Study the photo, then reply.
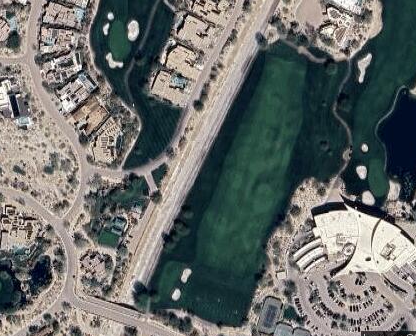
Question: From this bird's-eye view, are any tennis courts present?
Yes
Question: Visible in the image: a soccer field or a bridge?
bridge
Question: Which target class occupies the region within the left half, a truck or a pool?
pool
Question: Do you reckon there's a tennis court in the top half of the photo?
No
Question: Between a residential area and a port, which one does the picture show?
residential area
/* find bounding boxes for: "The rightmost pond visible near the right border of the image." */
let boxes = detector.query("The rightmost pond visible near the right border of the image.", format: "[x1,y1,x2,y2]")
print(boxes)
[378,89,416,198]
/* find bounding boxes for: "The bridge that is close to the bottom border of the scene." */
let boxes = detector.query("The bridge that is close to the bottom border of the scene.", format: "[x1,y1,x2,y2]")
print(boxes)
[91,294,165,330]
